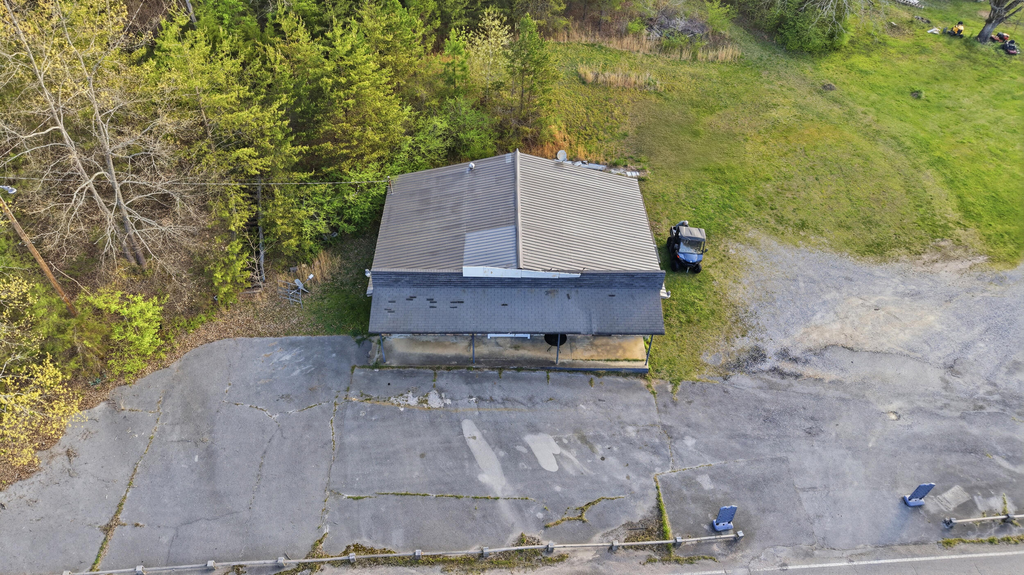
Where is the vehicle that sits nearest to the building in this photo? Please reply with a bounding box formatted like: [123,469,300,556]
[670,222,712,277]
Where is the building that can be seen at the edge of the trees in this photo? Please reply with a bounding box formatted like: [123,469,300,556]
[362,146,677,371]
